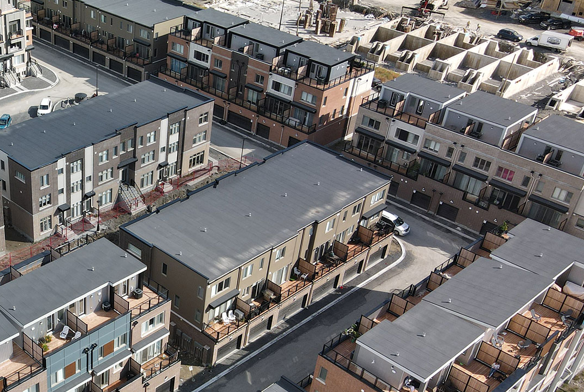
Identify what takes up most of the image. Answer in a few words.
buildings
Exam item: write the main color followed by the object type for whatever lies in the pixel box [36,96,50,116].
white vehicle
